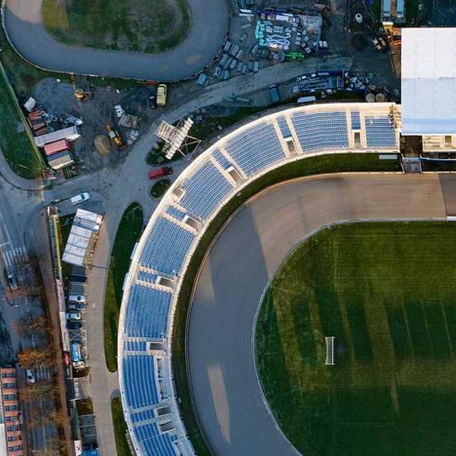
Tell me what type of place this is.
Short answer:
sports ground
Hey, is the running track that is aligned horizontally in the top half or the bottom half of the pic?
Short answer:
top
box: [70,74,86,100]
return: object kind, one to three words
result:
work vehicle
